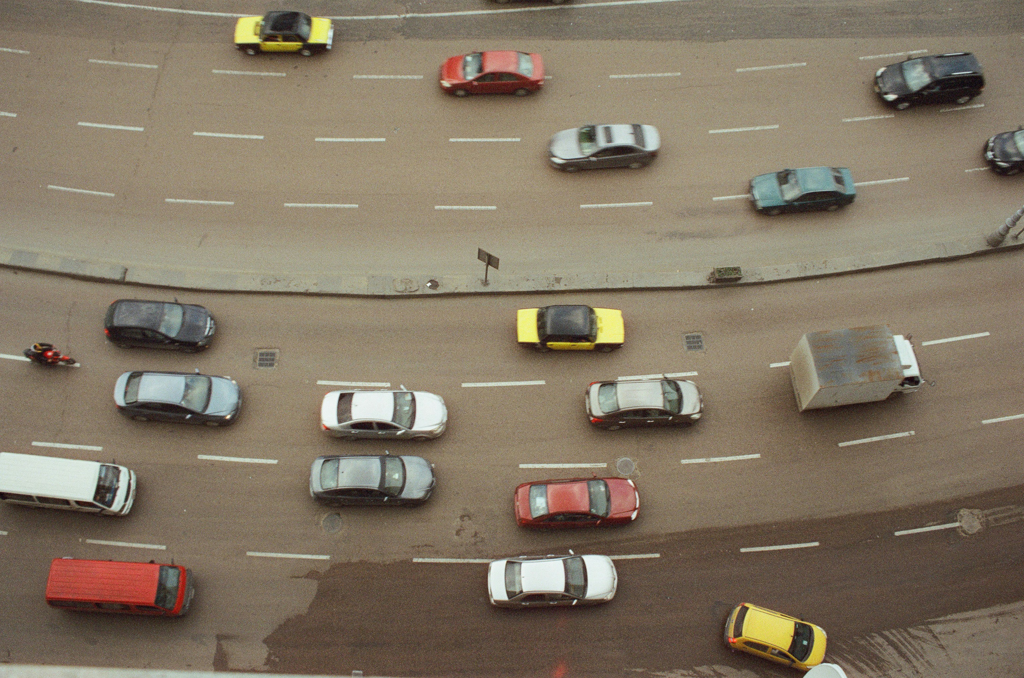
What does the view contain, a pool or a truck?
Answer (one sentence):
Visible in the photo is a truck.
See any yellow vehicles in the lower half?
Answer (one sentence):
Yes, looking in the lower half, one can make out a yellow vehicle.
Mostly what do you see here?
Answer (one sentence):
What you mostly see from above here is paved ground.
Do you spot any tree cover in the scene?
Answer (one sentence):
No, there is no tree cover in the image.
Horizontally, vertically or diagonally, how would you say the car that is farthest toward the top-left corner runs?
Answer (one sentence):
From this overhead view, the car that is farthest toward the top-left corner appears to run horizontally.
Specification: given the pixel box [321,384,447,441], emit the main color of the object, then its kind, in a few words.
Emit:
white car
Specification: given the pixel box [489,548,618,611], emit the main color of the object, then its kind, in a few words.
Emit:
white car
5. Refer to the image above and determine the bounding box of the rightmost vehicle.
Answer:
[984,127,1024,179]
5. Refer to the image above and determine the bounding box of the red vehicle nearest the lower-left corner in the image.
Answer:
[46,559,193,620]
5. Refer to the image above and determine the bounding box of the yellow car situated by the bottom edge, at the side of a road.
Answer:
[725,600,827,672]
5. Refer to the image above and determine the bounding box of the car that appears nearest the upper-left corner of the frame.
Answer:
[235,10,333,56]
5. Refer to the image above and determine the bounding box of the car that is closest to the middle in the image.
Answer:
[517,300,625,352]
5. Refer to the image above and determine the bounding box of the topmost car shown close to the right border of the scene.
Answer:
[873,51,985,110]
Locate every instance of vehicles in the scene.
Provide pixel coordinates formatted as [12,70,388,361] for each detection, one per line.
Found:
[235,10,333,56]
[749,164,856,215]
[515,469,639,530]
[0,453,136,517]
[984,127,1024,179]
[439,49,544,97]
[873,51,985,110]
[105,296,214,353]
[114,369,242,426]
[310,448,435,506]
[548,122,661,174]
[585,372,704,430]
[489,548,618,611]
[46,559,193,620]
[792,326,931,411]
[725,600,827,672]
[517,300,625,352]
[321,384,447,441]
